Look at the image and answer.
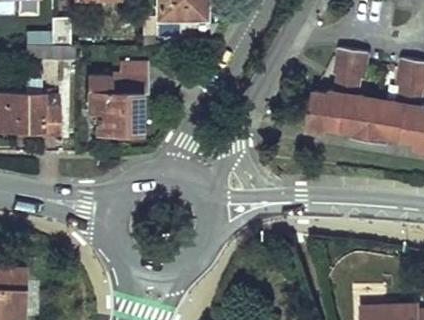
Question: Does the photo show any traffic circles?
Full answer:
Yes, a traffic circle can be made out from above.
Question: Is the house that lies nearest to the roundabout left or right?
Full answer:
It is on the left.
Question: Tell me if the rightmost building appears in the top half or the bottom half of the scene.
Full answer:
It is in the top half that the rightmost building appears.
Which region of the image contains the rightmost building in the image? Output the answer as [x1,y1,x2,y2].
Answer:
[398,57,424,98]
